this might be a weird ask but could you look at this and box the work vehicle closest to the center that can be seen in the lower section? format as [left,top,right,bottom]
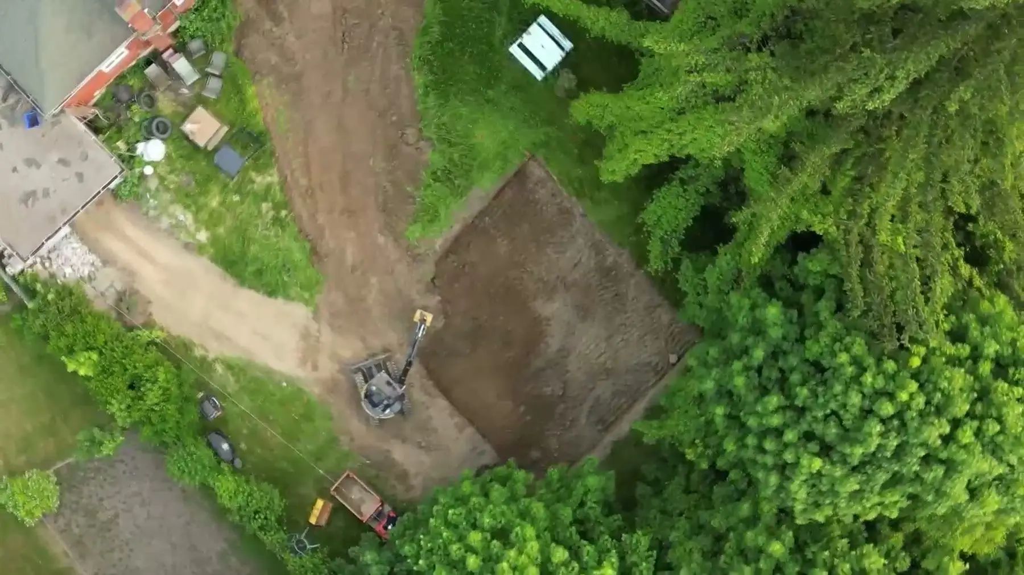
[344,313,431,427]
